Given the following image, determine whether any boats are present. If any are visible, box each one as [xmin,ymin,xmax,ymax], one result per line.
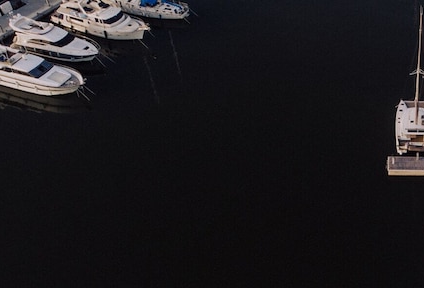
[0,45,96,97]
[1,2,110,62]
[43,0,161,44]
[404,144,424,152]
[102,0,192,24]
[393,2,424,156]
